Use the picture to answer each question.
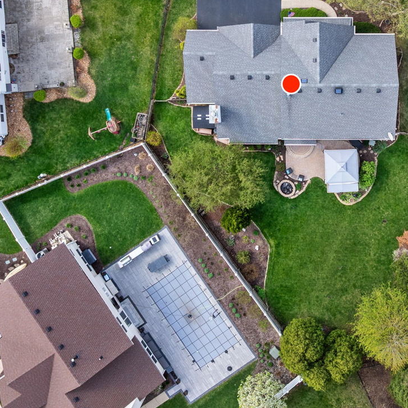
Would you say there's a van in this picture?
No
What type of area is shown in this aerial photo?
residential area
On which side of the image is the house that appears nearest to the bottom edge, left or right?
left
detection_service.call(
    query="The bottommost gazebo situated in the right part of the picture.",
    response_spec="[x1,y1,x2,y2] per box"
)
[323,147,360,192]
